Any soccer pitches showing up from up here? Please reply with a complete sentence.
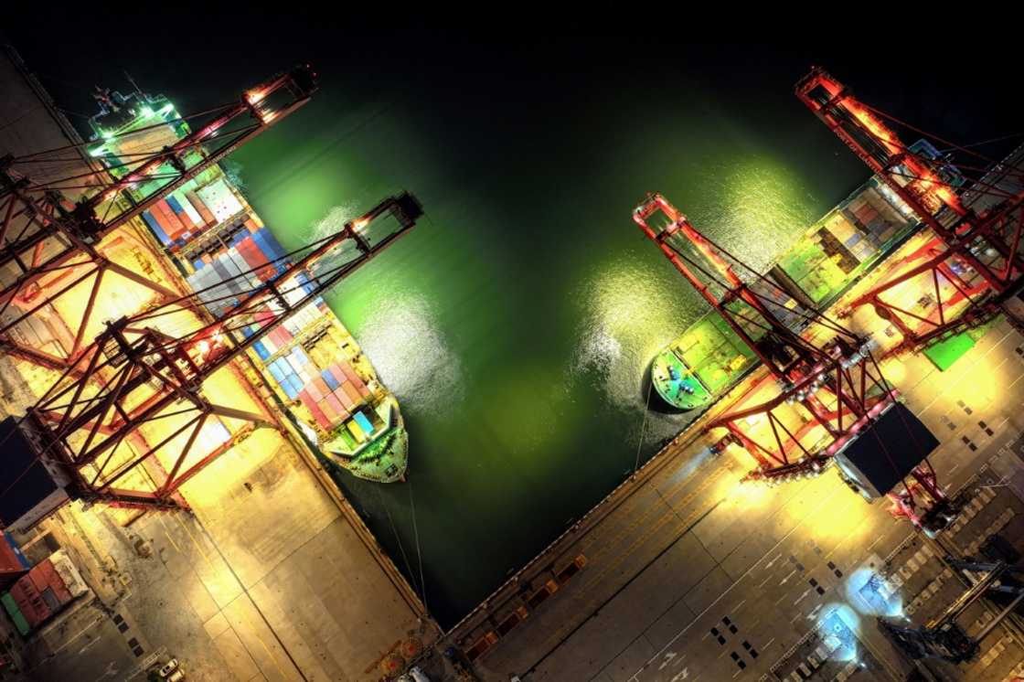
No, there isn't any soccer pitch down there.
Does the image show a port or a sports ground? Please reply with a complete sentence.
What you see here is a port.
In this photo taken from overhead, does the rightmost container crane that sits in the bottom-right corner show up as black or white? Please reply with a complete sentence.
The rightmost container crane that sits in the bottom-right corner looks black in the image.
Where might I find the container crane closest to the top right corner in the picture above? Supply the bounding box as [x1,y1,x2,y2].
[785,64,1024,368]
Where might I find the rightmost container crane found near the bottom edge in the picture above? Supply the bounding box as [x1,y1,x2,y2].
[875,534,1024,676]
